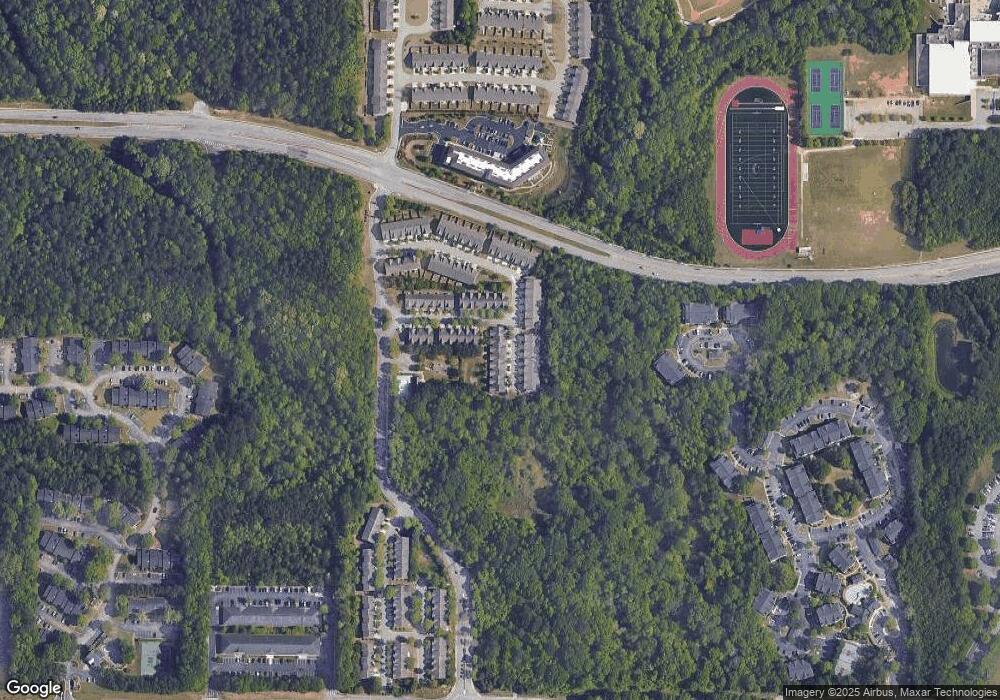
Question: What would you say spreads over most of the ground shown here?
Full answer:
For the most part, this view shows trees.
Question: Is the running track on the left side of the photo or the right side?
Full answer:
The running track sits on the right side.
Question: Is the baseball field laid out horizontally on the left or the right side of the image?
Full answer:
The baseball field laid out horizontally sits on the right side.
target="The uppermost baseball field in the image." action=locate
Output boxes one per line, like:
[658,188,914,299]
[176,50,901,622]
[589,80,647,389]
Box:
[676,0,754,25]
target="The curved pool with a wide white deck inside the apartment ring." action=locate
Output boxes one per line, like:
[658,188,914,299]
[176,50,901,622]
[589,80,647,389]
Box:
[843,582,872,604]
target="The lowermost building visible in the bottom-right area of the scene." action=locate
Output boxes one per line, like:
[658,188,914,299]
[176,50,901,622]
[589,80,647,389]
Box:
[788,660,813,680]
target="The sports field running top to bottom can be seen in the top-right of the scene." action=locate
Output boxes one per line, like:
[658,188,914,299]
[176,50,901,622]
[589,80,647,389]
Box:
[727,87,788,251]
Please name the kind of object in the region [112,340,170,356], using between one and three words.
building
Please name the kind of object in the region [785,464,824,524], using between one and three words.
building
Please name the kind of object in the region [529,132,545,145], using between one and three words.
swimming pool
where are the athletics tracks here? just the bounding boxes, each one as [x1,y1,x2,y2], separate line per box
[716,76,798,261]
